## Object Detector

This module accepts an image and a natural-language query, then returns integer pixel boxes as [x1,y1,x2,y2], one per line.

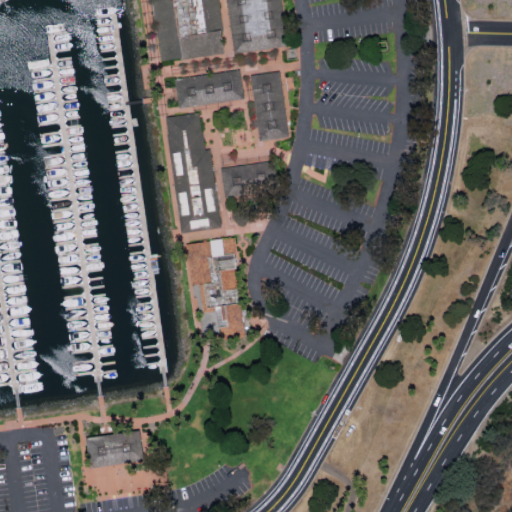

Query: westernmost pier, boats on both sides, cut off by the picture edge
[0,118,44,406]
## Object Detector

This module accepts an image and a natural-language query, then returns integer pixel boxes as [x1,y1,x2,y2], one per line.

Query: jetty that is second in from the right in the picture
[32,32,118,396]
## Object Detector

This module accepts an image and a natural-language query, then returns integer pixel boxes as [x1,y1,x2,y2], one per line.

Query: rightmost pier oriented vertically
[97,8,168,387]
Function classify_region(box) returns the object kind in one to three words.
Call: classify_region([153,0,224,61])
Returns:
building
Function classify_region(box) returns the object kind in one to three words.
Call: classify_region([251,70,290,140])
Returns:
building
